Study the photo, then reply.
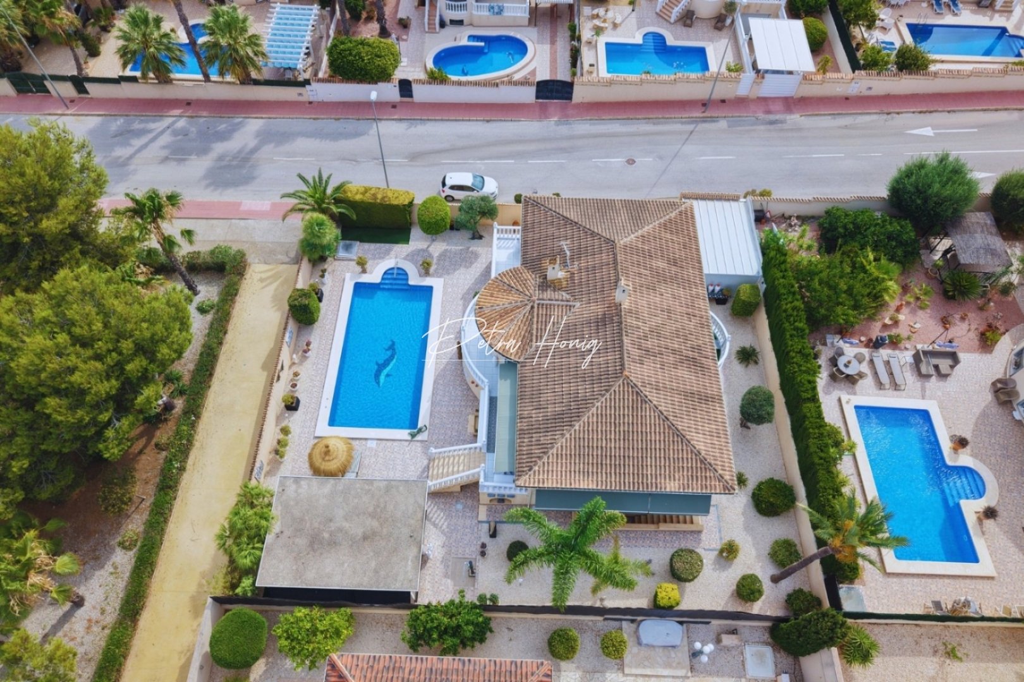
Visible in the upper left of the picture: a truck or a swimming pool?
swimming pool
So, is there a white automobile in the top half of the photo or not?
Yes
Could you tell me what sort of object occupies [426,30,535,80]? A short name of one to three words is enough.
swimming pool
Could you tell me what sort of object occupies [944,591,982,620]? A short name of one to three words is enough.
umbrella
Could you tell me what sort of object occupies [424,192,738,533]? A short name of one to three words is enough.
house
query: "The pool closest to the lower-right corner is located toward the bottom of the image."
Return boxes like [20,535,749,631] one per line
[841,395,1001,577]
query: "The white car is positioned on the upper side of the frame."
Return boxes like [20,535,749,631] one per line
[439,173,498,201]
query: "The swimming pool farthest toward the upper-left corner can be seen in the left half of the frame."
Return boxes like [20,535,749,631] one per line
[120,18,278,79]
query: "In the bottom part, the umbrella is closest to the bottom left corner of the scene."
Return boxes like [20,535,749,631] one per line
[311,437,356,478]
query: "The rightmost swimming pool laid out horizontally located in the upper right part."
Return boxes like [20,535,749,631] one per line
[896,10,1024,61]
